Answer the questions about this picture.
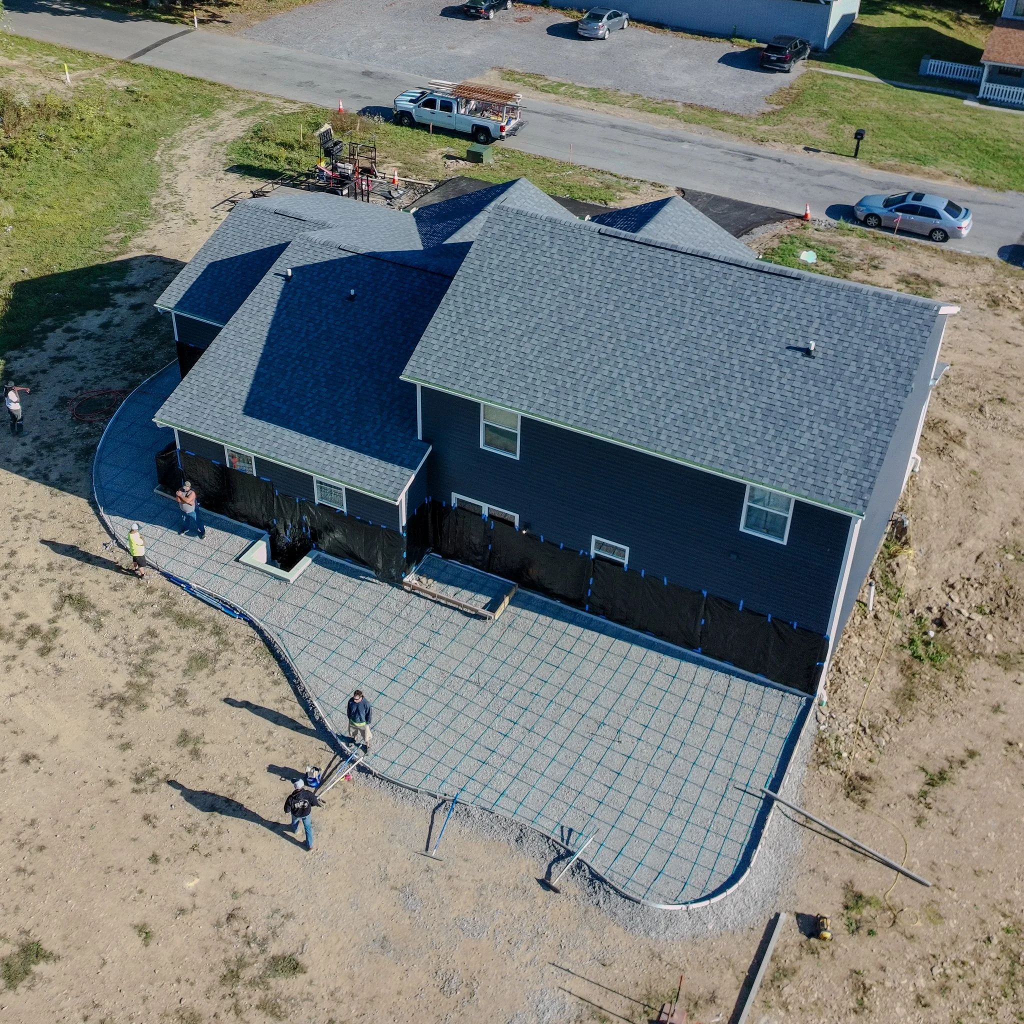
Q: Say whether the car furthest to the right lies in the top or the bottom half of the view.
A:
top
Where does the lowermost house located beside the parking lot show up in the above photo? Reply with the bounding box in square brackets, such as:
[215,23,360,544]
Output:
[148,177,964,704]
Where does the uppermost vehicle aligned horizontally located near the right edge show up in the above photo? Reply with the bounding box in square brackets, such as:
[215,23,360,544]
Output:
[852,201,978,253]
